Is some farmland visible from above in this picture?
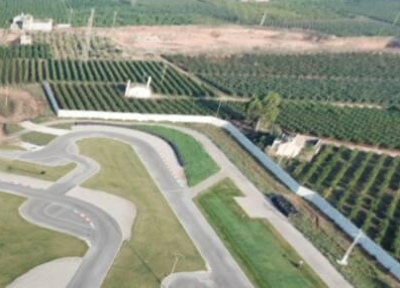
Yes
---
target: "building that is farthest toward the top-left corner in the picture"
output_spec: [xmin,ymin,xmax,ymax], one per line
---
[12,13,30,31]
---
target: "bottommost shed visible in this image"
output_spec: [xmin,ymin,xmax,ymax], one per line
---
[271,124,322,158]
